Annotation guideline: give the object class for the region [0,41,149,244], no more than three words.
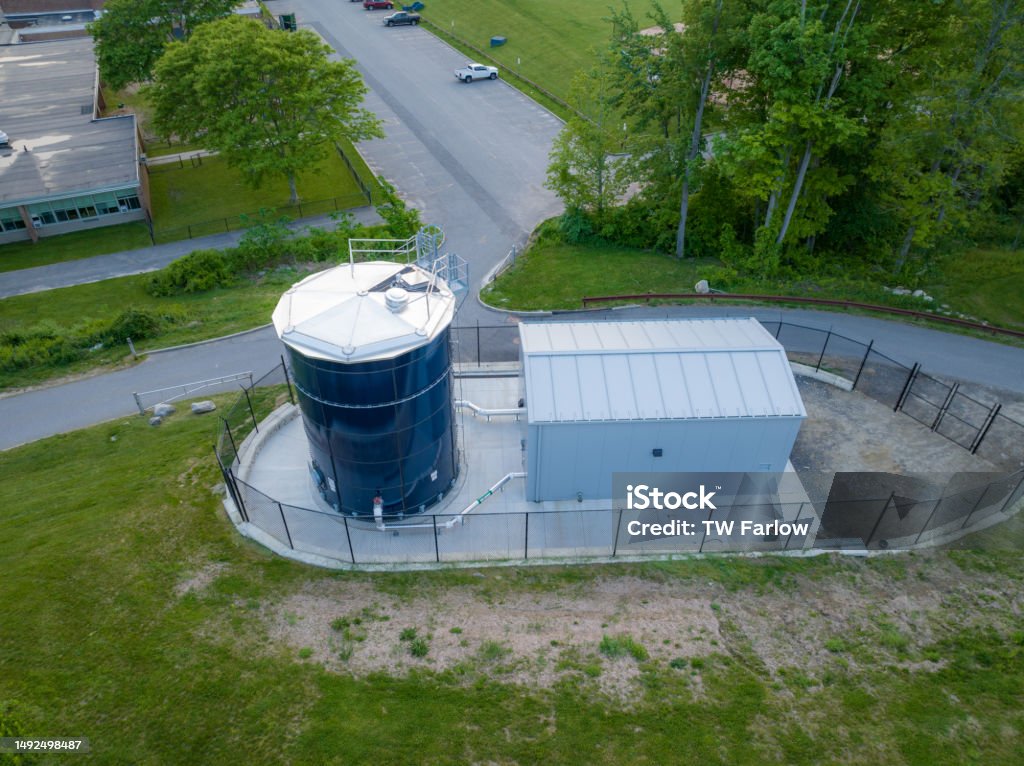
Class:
building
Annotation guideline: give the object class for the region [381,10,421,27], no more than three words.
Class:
vehicle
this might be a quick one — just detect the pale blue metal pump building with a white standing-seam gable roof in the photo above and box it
[512,317,808,504]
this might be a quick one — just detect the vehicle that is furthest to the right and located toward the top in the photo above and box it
[454,63,502,82]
